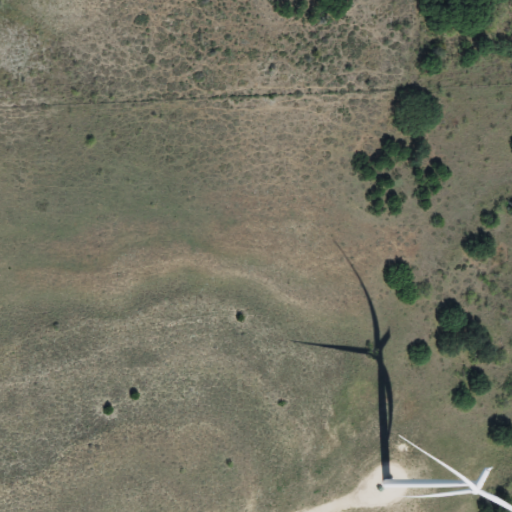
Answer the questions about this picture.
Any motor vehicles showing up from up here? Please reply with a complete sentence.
No, I find no motor vehicle anywhere in the image.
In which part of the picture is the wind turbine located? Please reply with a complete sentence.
You can find the wind turbine in the bottom right area of the picture.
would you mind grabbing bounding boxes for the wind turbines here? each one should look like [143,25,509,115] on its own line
[380,434,512,508]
